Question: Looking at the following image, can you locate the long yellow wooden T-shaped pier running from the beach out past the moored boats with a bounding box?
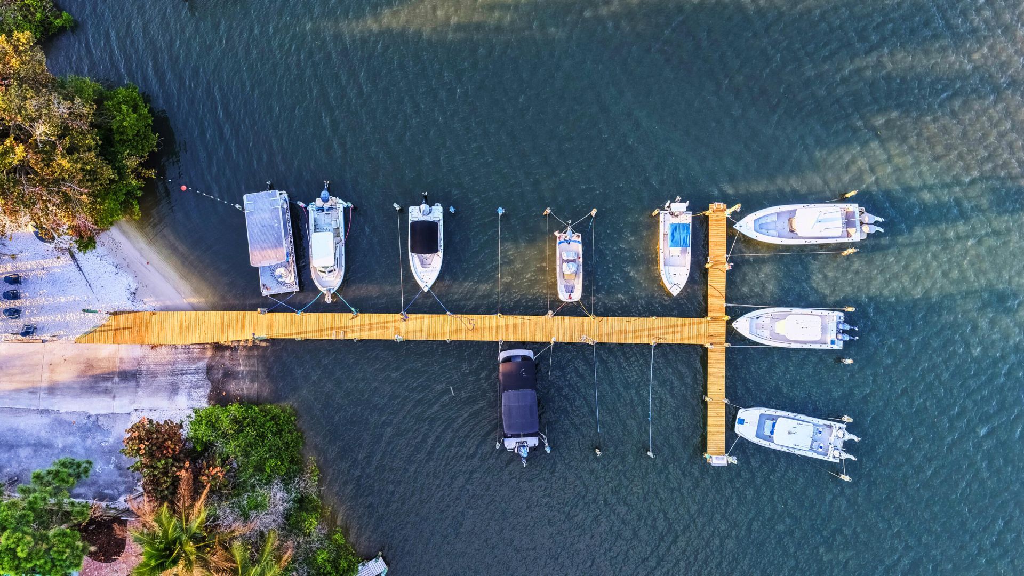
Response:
[73,199,741,465]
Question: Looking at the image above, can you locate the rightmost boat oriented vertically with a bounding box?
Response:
[658,193,692,296]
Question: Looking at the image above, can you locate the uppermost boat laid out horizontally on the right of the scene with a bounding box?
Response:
[734,204,889,245]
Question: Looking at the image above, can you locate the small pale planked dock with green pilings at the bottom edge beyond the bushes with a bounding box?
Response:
[357,547,392,576]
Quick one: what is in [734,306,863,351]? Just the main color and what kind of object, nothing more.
white boat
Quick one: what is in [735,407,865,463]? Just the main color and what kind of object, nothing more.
white boat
